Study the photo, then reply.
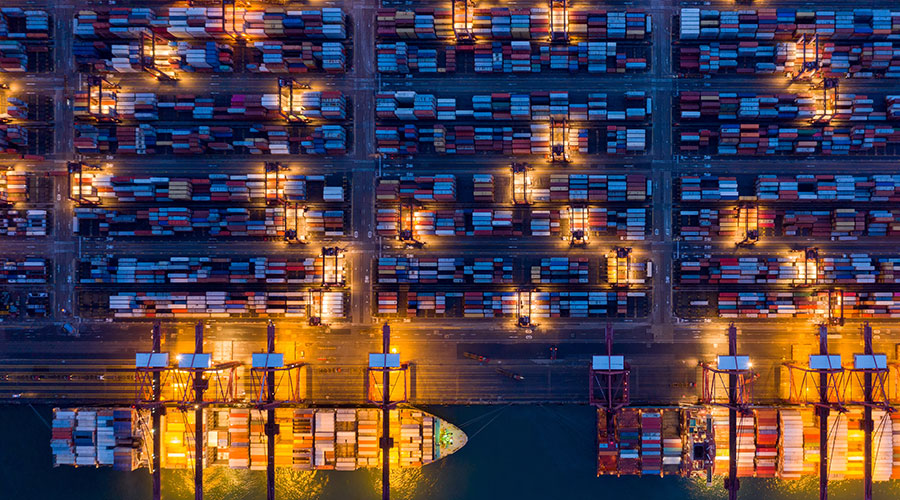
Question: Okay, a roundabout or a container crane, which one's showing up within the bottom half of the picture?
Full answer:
Visible within the bottom half of the picture is a container crane.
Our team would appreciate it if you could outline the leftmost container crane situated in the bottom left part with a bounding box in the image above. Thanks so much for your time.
[128,322,195,500]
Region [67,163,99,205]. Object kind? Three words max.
container crane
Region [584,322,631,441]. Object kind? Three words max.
container crane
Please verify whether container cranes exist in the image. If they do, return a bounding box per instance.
[831,322,889,500]
[811,78,837,122]
[365,322,422,500]
[308,287,333,326]
[817,287,843,326]
[452,0,475,42]
[67,163,99,205]
[794,34,818,80]
[249,322,313,500]
[265,163,291,205]
[567,203,588,243]
[173,322,246,500]
[221,0,250,42]
[128,322,195,500]
[548,118,570,162]
[87,78,120,122]
[784,322,845,500]
[611,248,633,286]
[284,203,309,243]
[278,78,304,122]
[514,287,536,326]
[700,322,754,500]
[323,248,348,286]
[584,322,631,441]
[141,34,171,80]
[511,163,533,205]
[398,203,421,243]
[795,248,819,286]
